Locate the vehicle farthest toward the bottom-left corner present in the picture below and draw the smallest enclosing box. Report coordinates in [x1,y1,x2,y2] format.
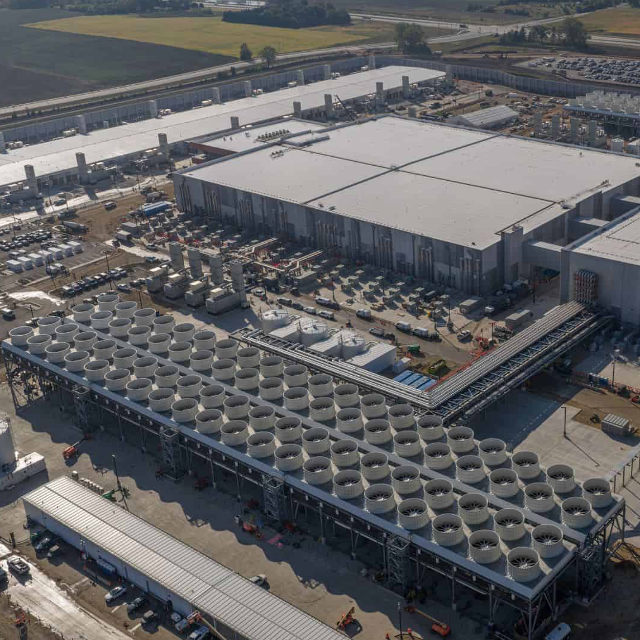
[8,605,31,628]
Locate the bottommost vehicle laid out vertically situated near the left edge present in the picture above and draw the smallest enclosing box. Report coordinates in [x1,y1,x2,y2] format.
[11,546,26,576]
